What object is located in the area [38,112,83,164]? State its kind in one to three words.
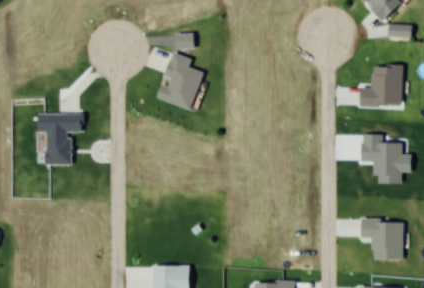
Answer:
house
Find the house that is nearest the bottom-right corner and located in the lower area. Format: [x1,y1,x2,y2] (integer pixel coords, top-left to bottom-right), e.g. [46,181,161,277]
[362,218,404,260]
